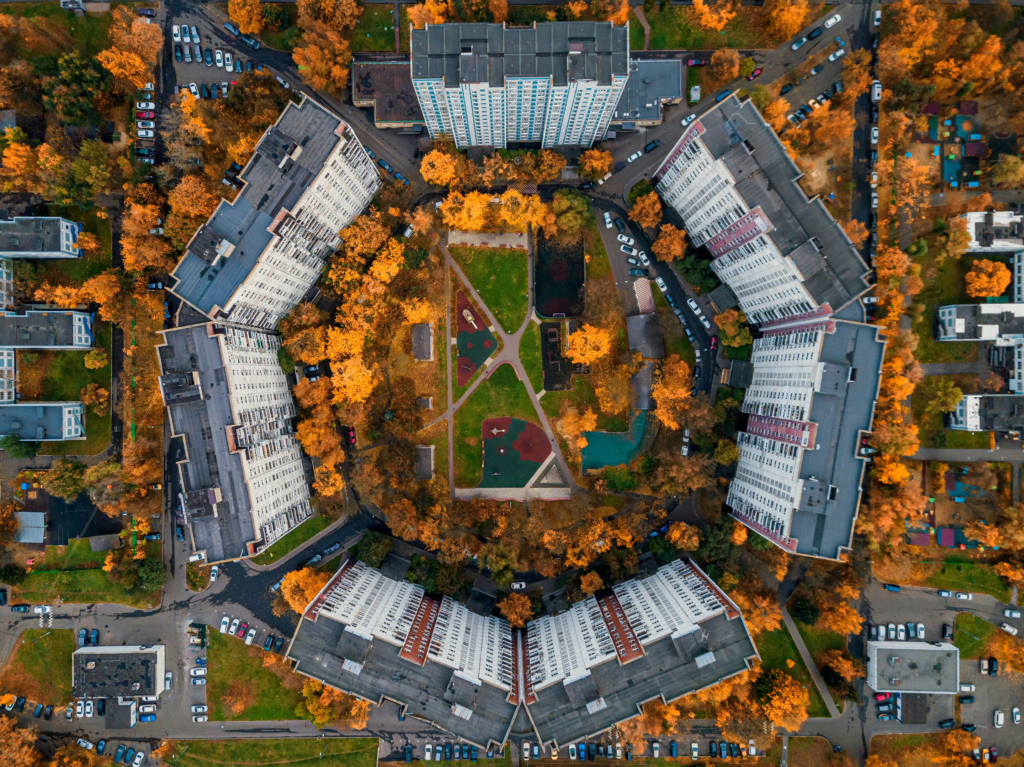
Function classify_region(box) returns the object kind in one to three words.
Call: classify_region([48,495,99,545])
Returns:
sports court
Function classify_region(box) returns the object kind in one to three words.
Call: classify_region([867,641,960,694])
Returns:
building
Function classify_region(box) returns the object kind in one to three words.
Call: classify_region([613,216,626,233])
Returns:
vehicle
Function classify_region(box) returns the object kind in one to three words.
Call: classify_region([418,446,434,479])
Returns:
shed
